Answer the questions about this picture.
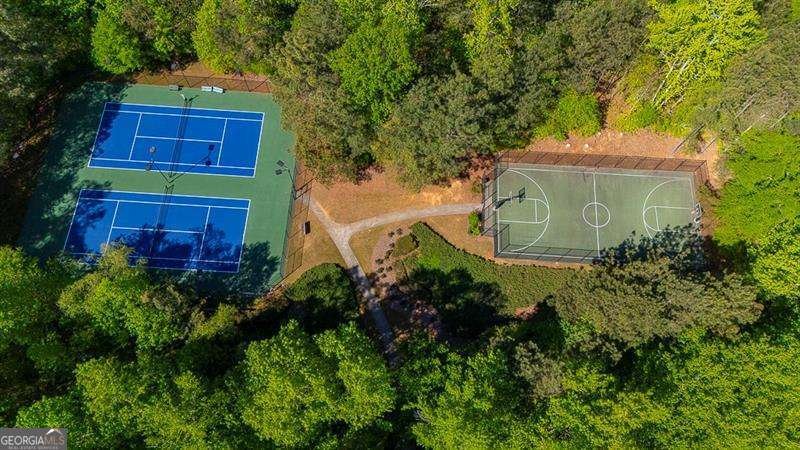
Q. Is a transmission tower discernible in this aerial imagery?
No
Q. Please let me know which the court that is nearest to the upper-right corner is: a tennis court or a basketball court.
basketball court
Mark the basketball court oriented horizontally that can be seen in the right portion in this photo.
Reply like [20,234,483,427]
[481,161,706,268]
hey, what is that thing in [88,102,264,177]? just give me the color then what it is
blue tennis court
